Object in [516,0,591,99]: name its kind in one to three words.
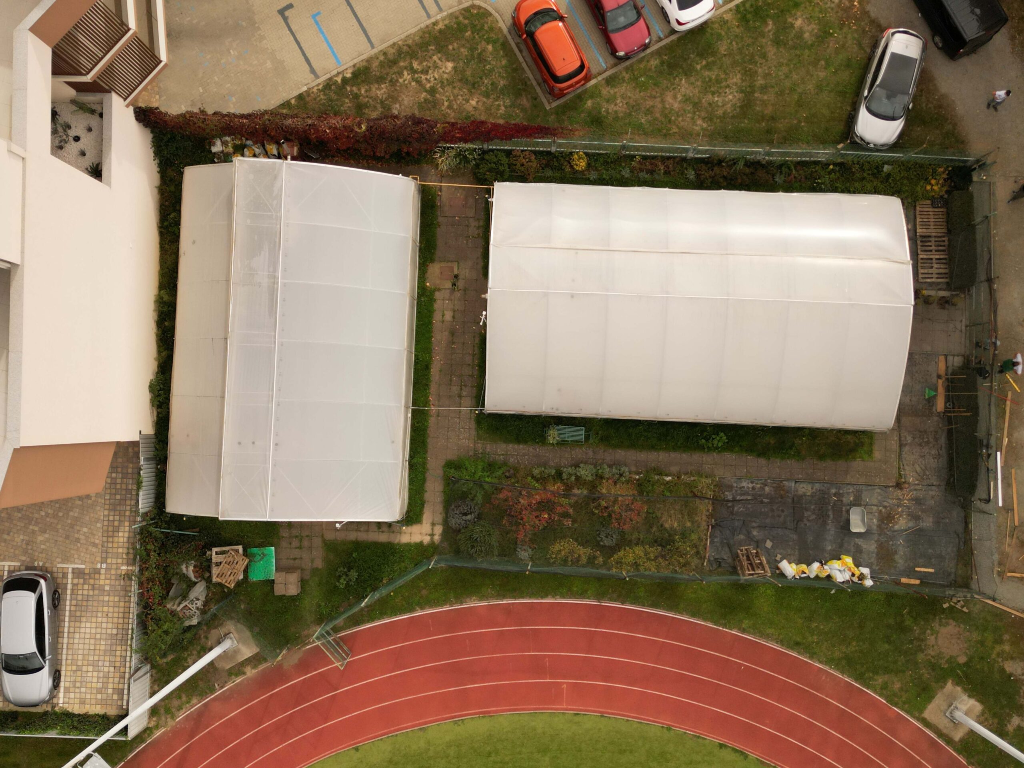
car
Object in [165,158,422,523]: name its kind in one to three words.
greenhouse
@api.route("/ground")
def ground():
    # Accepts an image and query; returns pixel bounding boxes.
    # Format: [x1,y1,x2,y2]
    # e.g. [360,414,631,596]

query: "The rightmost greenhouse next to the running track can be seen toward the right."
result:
[484,182,916,434]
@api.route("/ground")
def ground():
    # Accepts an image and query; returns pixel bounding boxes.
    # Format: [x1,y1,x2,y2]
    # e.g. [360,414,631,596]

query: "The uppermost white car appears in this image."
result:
[649,0,709,35]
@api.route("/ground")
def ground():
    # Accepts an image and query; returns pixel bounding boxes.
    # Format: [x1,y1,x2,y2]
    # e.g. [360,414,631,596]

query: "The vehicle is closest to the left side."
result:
[0,572,67,703]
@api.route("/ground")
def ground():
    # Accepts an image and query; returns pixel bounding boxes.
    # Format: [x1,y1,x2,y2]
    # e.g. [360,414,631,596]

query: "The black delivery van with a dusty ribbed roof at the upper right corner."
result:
[906,0,1017,63]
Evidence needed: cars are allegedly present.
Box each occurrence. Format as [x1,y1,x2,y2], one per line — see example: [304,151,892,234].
[0,572,67,703]
[584,0,646,57]
[840,27,925,150]
[649,0,709,35]
[516,0,591,99]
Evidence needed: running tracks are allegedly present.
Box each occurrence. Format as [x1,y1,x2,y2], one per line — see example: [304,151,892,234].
[118,596,975,768]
